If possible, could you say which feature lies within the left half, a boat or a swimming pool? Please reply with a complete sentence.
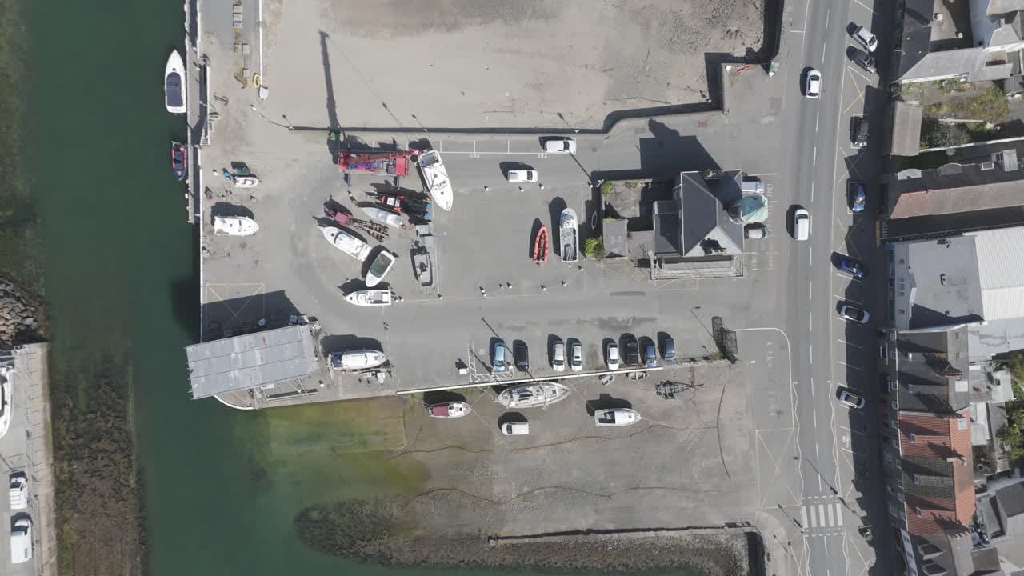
The feature located within the left half is a boat.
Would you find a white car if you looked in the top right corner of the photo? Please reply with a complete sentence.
Yes, you'll find a white car in the top right corner of the photo.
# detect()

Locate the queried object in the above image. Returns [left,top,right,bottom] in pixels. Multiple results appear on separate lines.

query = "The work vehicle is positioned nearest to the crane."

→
[368,189,401,211]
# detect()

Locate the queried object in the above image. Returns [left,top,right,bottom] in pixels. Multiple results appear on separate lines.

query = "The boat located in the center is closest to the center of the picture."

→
[532,225,548,267]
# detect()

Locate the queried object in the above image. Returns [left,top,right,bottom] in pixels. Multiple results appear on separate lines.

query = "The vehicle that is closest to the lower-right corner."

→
[834,387,864,406]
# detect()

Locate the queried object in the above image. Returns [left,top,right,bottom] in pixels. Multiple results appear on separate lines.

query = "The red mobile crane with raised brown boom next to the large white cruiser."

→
[339,144,449,191]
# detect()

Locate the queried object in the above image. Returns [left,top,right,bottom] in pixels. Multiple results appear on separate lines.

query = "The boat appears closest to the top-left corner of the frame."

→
[164,49,189,117]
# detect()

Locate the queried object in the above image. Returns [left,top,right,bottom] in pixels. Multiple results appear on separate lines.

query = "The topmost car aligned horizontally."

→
[543,140,574,153]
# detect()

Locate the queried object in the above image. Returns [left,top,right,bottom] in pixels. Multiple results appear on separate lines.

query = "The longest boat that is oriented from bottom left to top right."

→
[366,248,397,288]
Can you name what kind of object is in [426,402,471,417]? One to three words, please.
boat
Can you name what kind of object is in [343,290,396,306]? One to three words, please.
boat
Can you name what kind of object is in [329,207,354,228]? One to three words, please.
work vehicle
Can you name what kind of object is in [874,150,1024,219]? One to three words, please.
building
